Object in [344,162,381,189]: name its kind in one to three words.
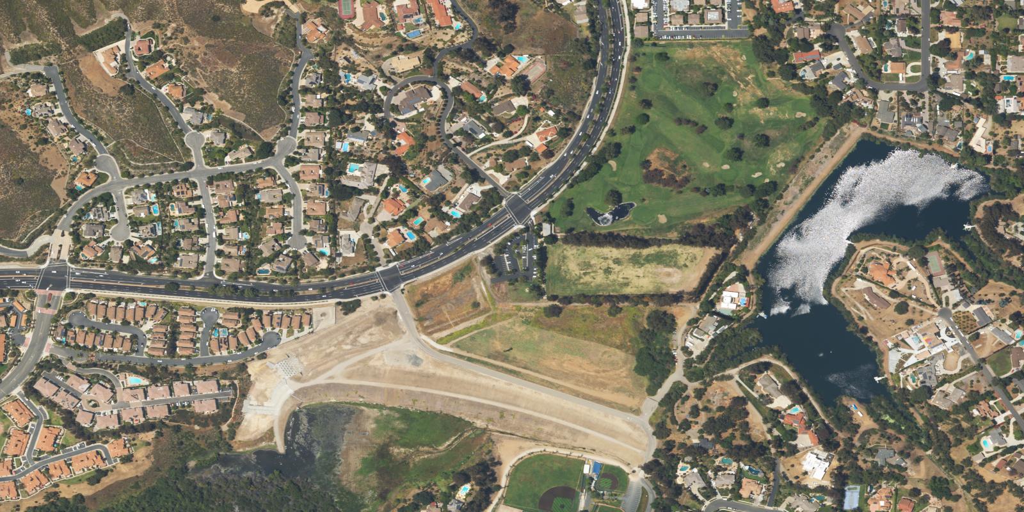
house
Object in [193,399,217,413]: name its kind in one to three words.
house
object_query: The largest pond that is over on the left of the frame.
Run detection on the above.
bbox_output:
[222,405,359,491]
